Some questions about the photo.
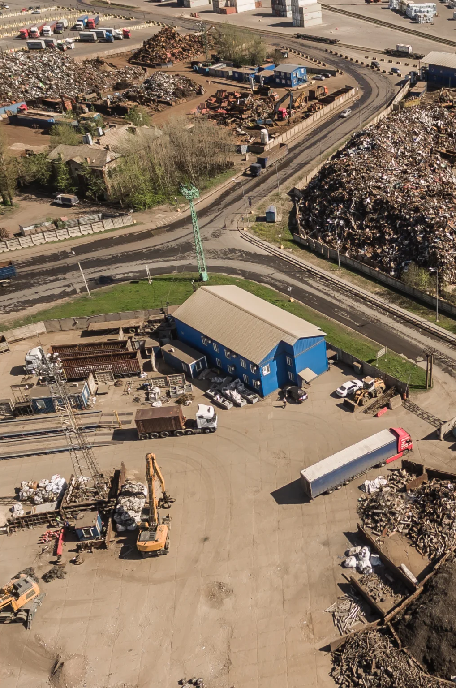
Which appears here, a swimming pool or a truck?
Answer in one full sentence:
The image shows a truck.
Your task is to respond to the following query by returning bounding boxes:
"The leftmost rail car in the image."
[291,31,341,44]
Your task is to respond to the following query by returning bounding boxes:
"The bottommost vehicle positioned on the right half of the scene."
[301,427,419,494]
